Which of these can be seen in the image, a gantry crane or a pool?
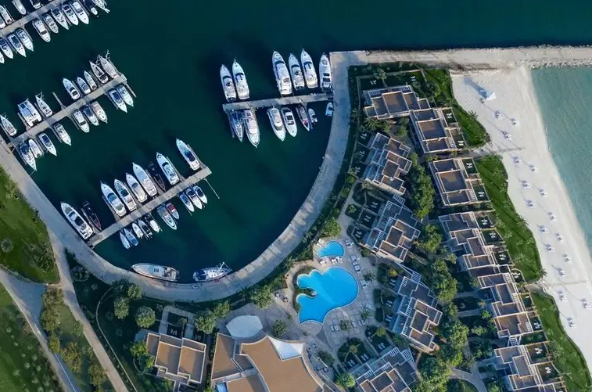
pool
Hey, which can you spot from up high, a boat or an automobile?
boat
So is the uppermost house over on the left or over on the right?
right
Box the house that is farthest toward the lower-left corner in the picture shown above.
[147,333,206,392]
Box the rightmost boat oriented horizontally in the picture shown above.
[193,265,231,280]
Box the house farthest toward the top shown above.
[363,85,430,121]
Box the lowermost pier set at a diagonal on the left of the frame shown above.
[79,143,219,246]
